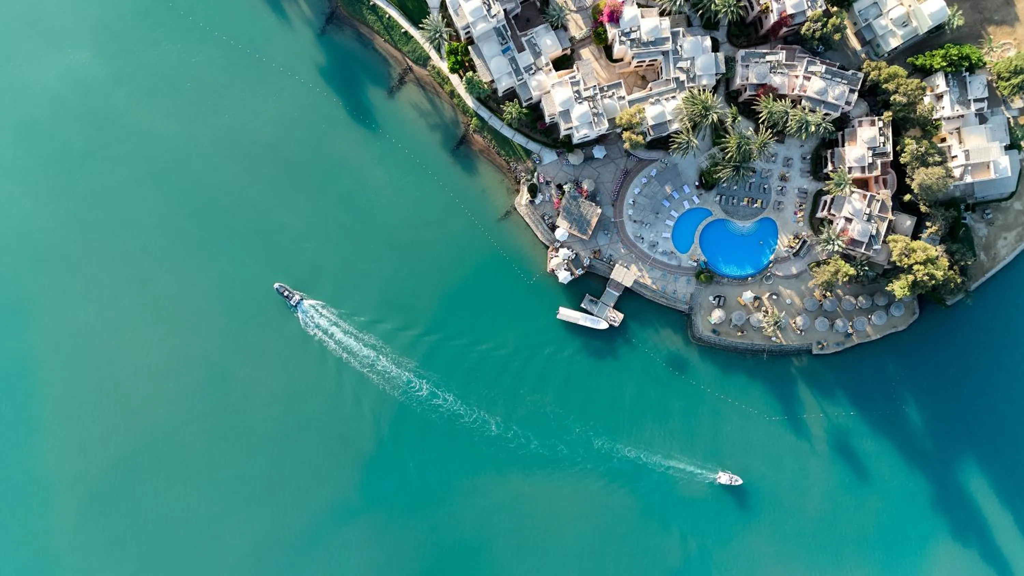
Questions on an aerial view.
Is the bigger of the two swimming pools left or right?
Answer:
right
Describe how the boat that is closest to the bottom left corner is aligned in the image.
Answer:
diagonally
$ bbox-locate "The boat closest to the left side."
[273,285,299,305]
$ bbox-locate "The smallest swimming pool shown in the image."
[670,206,714,255]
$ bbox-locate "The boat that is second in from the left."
[556,306,609,329]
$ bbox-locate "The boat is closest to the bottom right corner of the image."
[716,472,743,486]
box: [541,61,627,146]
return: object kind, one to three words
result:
house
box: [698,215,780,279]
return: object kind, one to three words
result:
swimming pool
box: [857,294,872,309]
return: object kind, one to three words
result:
umbrella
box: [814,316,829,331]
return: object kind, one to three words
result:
umbrella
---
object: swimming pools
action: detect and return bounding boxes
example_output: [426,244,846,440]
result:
[698,215,780,279]
[670,206,714,255]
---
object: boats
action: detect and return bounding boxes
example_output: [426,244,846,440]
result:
[556,306,609,329]
[716,472,743,486]
[273,285,299,305]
